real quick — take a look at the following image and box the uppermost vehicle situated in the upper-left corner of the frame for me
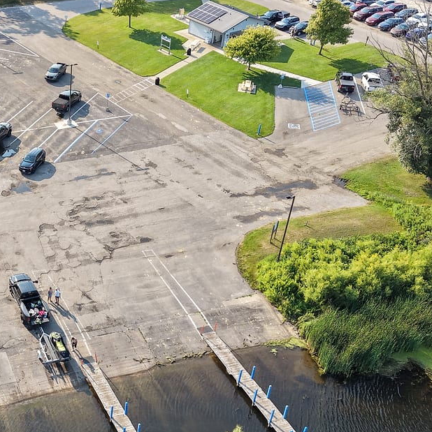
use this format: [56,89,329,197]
[46,62,67,80]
